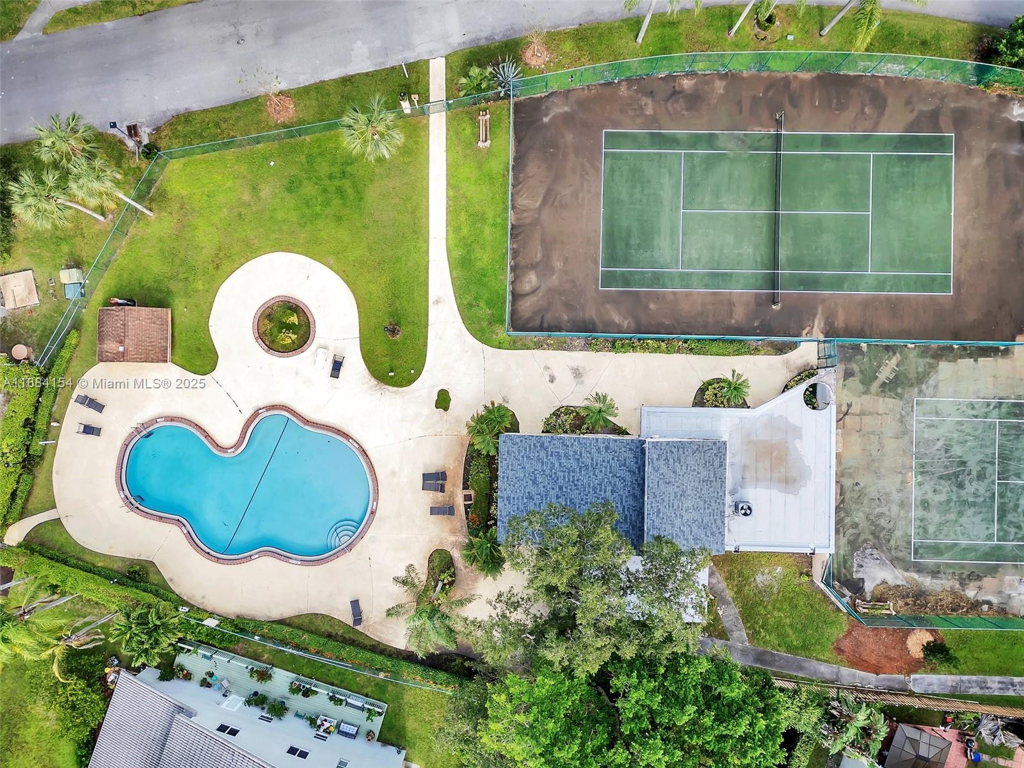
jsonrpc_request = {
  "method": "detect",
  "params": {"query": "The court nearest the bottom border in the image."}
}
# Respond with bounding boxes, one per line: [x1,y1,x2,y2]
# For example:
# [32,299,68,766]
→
[820,343,1024,618]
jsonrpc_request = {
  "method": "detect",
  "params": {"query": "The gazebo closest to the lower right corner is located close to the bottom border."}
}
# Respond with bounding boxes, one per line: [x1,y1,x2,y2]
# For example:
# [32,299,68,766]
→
[867,715,951,768]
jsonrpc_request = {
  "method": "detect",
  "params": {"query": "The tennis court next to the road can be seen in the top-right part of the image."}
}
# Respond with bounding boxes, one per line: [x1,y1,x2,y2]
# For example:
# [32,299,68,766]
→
[511,70,1024,346]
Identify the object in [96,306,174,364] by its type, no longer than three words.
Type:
shed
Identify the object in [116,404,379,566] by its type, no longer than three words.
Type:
swimming pool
